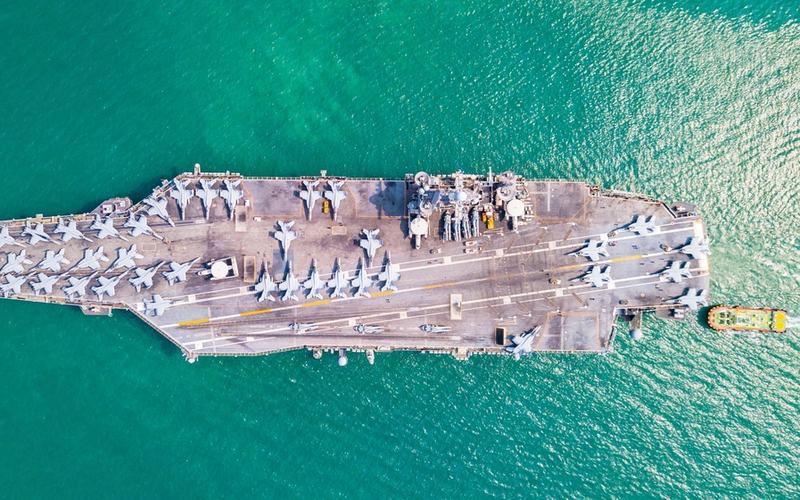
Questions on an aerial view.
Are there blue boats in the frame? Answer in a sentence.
No, no blue boat is visible in the view.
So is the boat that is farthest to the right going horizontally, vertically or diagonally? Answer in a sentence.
The boat that is farthest to the right is oriented horizontally.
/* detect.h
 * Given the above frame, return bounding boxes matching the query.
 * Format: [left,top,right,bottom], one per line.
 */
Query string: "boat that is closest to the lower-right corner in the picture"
[706,305,788,333]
